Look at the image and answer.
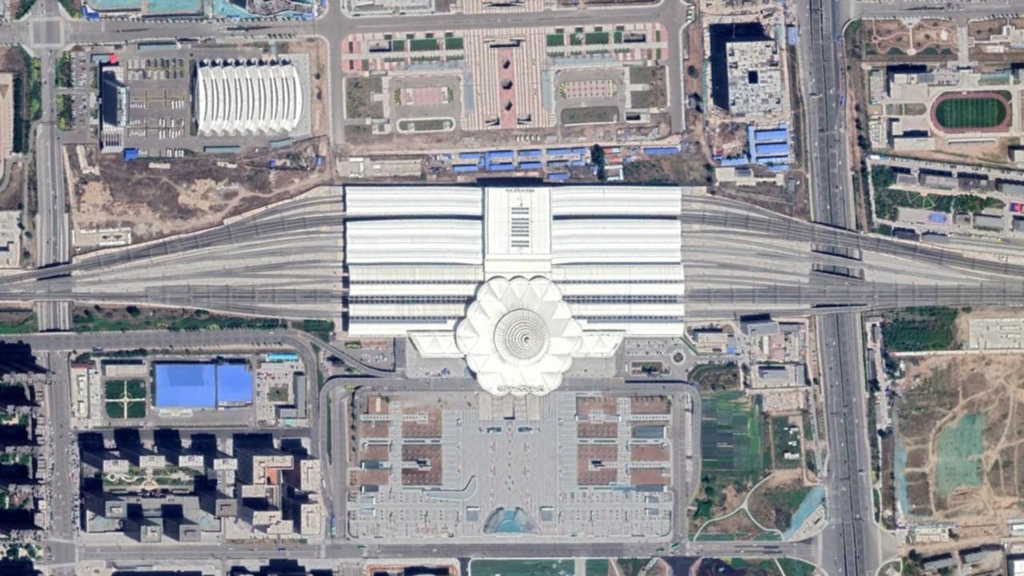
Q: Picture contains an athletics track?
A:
Yes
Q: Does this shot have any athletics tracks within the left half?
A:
No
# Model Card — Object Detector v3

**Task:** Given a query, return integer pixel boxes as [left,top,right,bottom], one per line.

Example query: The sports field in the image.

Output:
[936,97,1006,128]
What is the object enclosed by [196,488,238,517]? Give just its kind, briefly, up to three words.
building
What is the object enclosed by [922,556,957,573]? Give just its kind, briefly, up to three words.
building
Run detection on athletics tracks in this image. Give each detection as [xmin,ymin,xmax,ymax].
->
[930,90,1012,135]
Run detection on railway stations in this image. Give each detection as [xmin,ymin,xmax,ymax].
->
[327,183,693,397]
